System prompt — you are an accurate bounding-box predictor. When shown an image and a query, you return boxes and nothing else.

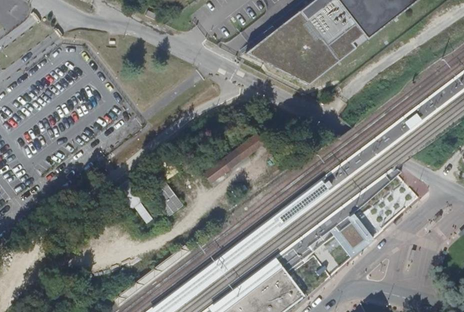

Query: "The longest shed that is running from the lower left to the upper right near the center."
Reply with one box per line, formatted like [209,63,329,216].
[204,135,261,185]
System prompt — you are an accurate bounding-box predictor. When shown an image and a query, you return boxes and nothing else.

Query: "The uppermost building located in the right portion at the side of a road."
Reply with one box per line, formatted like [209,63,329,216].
[248,0,418,85]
